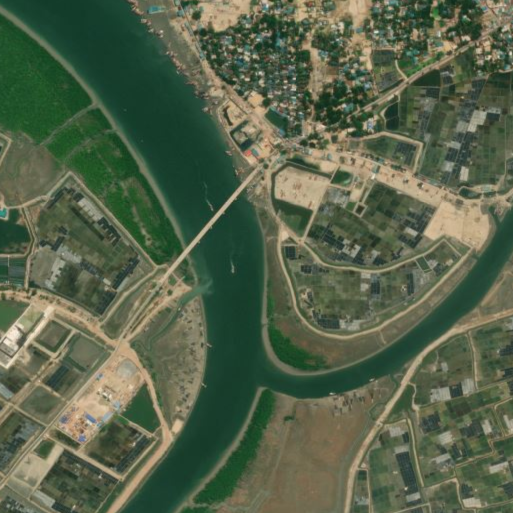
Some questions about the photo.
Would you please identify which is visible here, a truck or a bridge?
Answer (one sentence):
Visible in the photo is a bridge.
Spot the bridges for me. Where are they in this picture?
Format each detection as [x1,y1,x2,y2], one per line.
[160,162,265,279]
